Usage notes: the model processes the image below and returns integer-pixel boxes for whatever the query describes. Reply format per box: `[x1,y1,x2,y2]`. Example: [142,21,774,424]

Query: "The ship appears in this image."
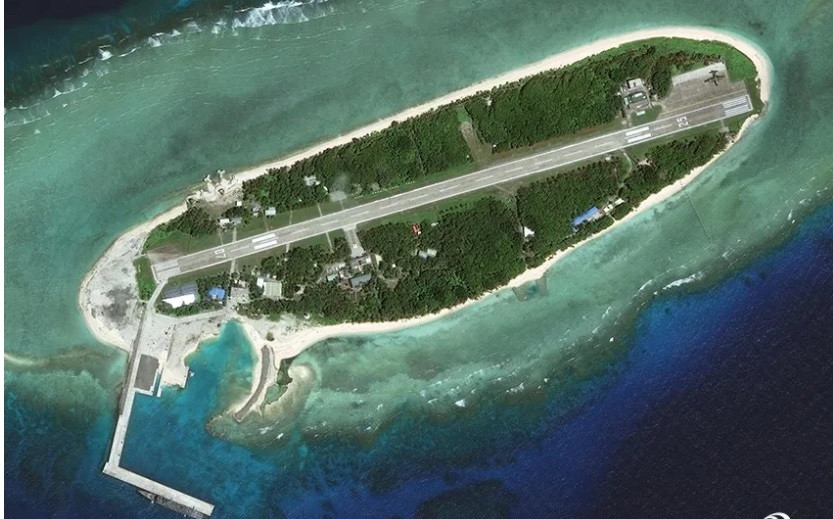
[136,490,210,519]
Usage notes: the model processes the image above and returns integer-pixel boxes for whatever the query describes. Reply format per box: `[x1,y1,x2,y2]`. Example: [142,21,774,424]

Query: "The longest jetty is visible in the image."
[102,305,215,517]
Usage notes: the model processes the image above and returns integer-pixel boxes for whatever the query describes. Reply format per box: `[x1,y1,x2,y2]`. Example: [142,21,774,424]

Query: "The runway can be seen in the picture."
[152,94,752,282]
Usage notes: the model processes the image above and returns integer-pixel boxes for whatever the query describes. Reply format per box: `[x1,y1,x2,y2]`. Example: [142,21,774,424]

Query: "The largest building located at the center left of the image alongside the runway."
[161,281,198,307]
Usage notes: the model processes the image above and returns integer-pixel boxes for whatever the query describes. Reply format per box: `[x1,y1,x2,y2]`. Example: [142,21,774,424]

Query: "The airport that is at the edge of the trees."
[152,62,752,282]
